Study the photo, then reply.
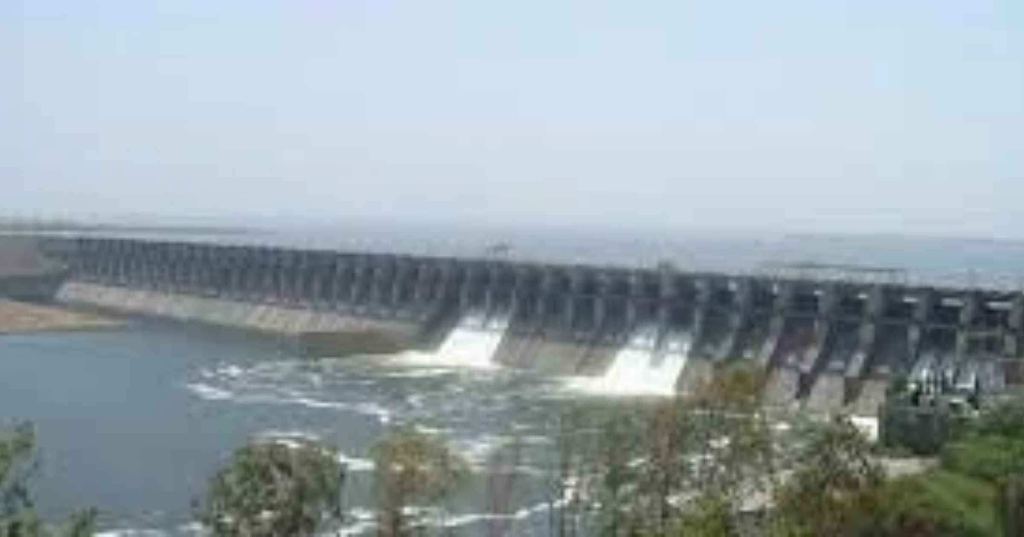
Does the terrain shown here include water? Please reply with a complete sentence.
Yes, water shows up in the scene.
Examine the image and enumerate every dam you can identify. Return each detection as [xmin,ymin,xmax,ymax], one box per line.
[35,239,1024,420]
